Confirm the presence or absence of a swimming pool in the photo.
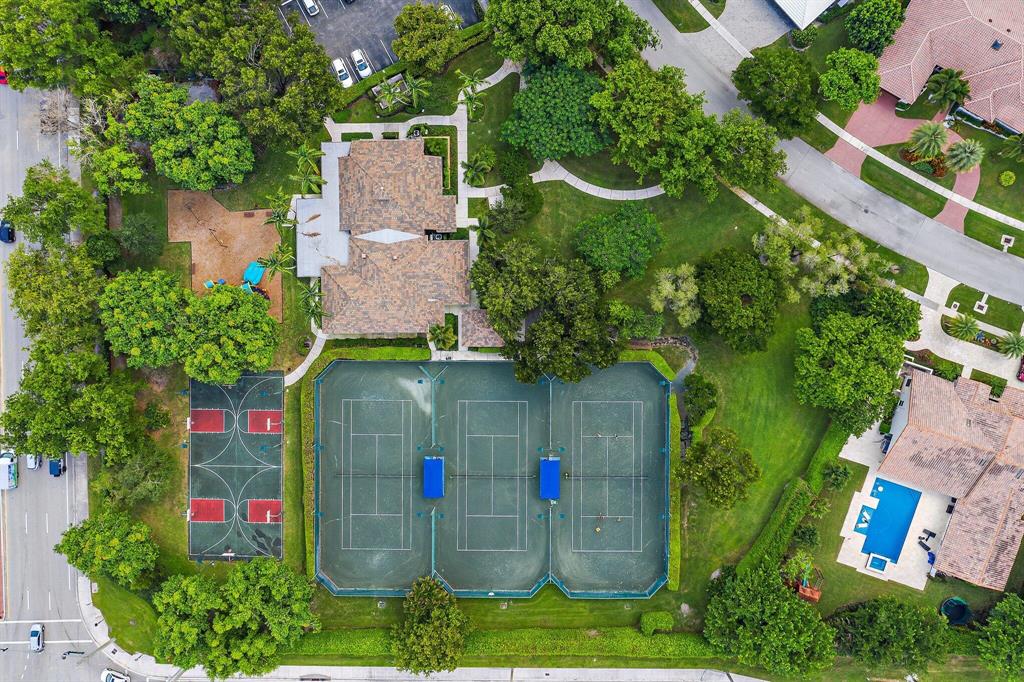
Yes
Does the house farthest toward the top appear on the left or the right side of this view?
right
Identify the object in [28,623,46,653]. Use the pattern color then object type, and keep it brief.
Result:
white car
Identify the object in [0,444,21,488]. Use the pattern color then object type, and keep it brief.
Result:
white truck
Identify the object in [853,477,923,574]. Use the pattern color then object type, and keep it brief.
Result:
blue swimming pool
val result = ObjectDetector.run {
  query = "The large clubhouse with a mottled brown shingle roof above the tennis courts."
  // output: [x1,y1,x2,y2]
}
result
[296,139,470,333]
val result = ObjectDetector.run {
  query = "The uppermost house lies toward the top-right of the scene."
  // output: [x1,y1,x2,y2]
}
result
[769,0,833,29]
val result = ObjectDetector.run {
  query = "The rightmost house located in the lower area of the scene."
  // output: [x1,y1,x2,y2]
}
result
[878,369,1024,590]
